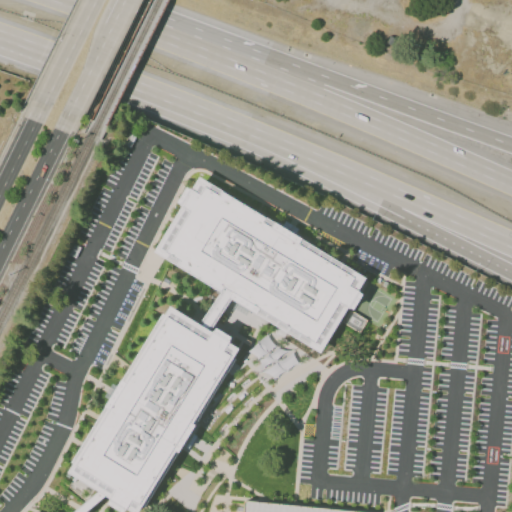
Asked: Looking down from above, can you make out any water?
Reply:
No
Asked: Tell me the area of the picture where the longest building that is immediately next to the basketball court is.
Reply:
center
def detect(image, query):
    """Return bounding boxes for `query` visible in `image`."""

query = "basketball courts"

[362,286,396,323]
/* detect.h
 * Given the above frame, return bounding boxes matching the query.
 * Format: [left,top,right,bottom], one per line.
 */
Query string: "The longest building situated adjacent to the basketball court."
[154,176,369,354]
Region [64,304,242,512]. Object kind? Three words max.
building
